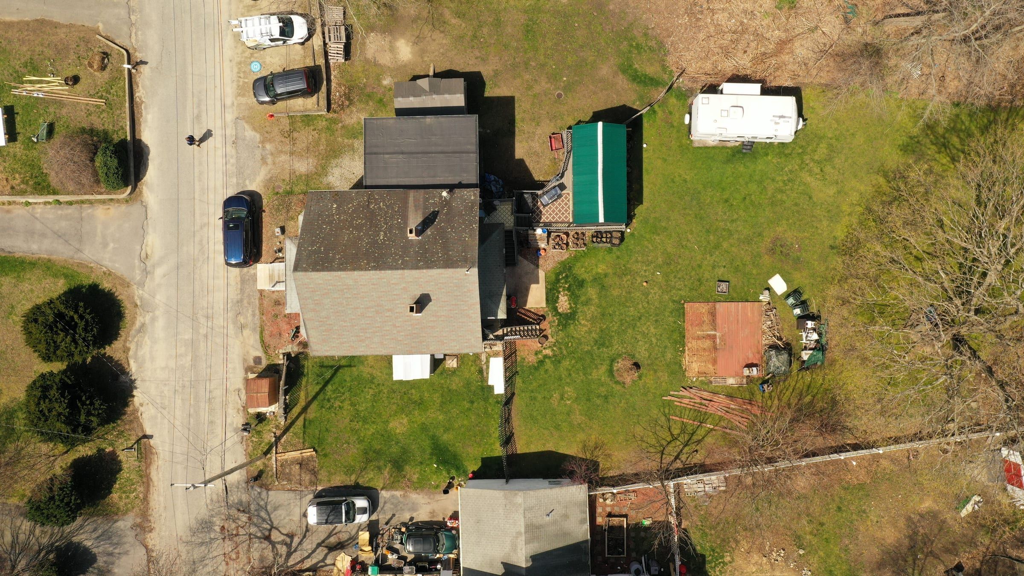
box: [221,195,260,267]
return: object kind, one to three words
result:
car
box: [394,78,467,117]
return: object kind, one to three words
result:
shed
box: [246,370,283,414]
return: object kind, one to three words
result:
shed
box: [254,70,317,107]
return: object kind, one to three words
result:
car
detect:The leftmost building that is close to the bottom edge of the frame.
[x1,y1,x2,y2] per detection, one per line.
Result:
[458,477,591,576]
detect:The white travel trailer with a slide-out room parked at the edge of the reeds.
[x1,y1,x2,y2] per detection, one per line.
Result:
[684,83,805,144]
